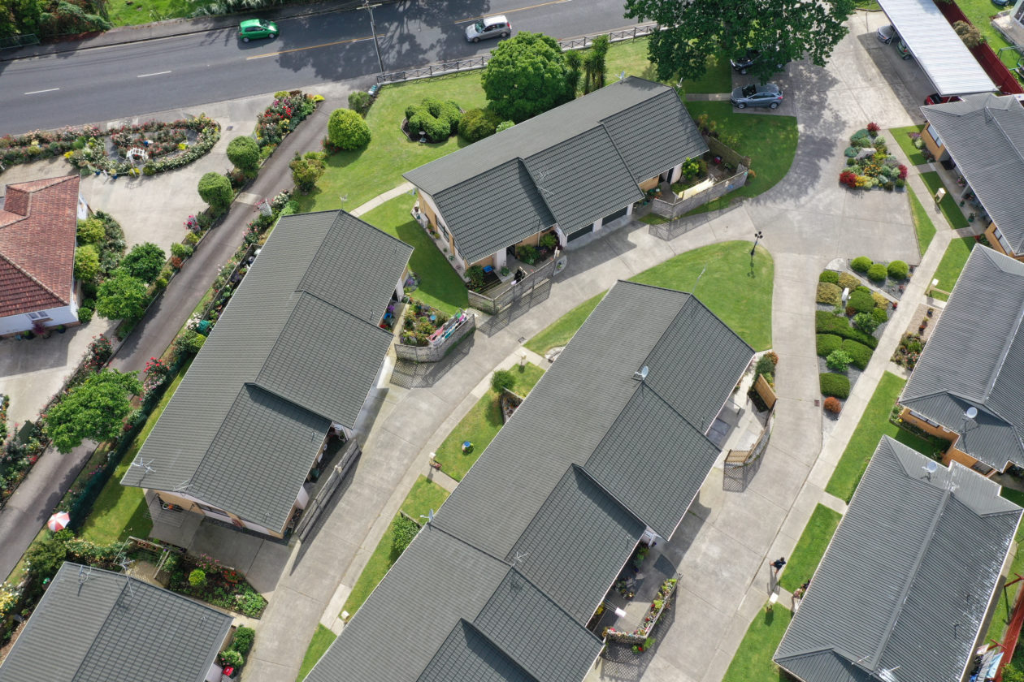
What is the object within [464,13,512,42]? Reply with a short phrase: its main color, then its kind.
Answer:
gray car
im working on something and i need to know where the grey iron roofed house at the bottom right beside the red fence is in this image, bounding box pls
[772,433,1022,682]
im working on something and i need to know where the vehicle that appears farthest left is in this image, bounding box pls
[234,15,279,41]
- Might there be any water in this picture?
No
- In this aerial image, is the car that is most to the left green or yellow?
green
